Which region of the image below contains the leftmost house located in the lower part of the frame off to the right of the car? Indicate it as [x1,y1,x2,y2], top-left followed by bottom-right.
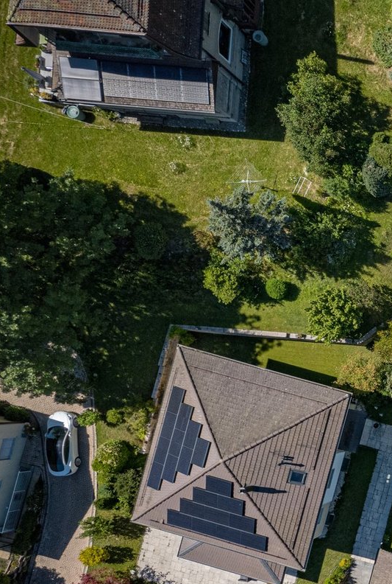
[130,344,371,584]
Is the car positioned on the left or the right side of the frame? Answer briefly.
left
